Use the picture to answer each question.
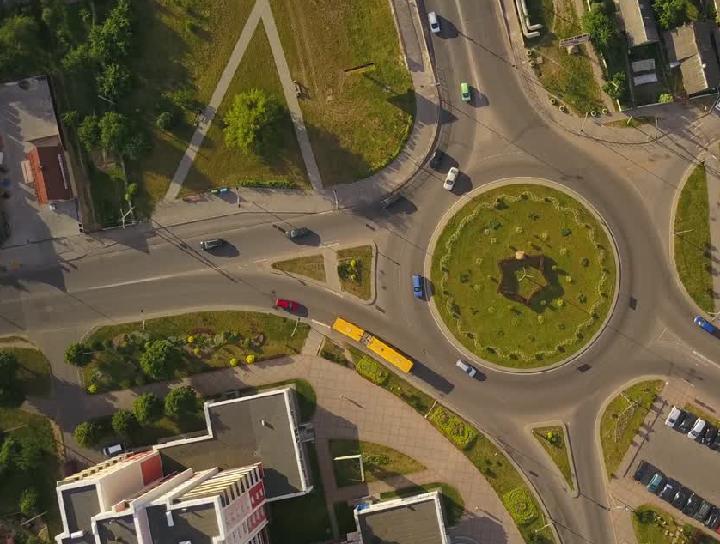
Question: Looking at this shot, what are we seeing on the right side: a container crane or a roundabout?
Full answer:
There is a roundabout on the right side.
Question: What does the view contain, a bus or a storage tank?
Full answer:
This aerial view contains a bus.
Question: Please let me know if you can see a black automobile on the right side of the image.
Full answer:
Yes, there is a black automobile on the right side of the image.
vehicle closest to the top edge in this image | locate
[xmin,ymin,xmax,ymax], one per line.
[427,10,441,35]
